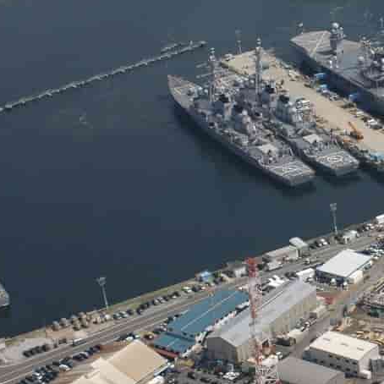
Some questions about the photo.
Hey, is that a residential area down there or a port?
port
